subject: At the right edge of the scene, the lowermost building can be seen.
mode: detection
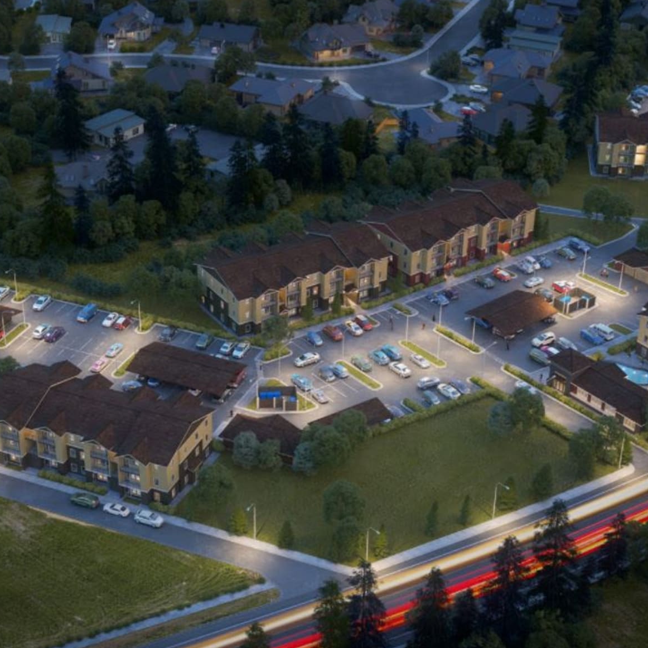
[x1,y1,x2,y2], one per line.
[530,341,648,435]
